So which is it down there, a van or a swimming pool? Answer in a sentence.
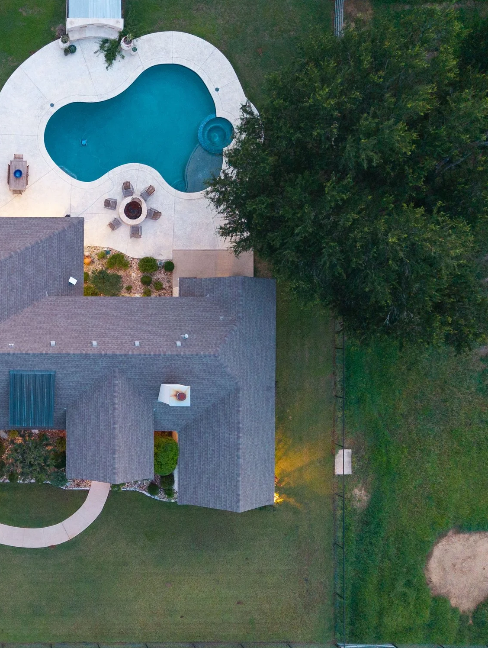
This aerial view contains a swimming pool.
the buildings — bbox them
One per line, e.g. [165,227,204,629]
[64,0,124,43]
[0,215,276,513]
